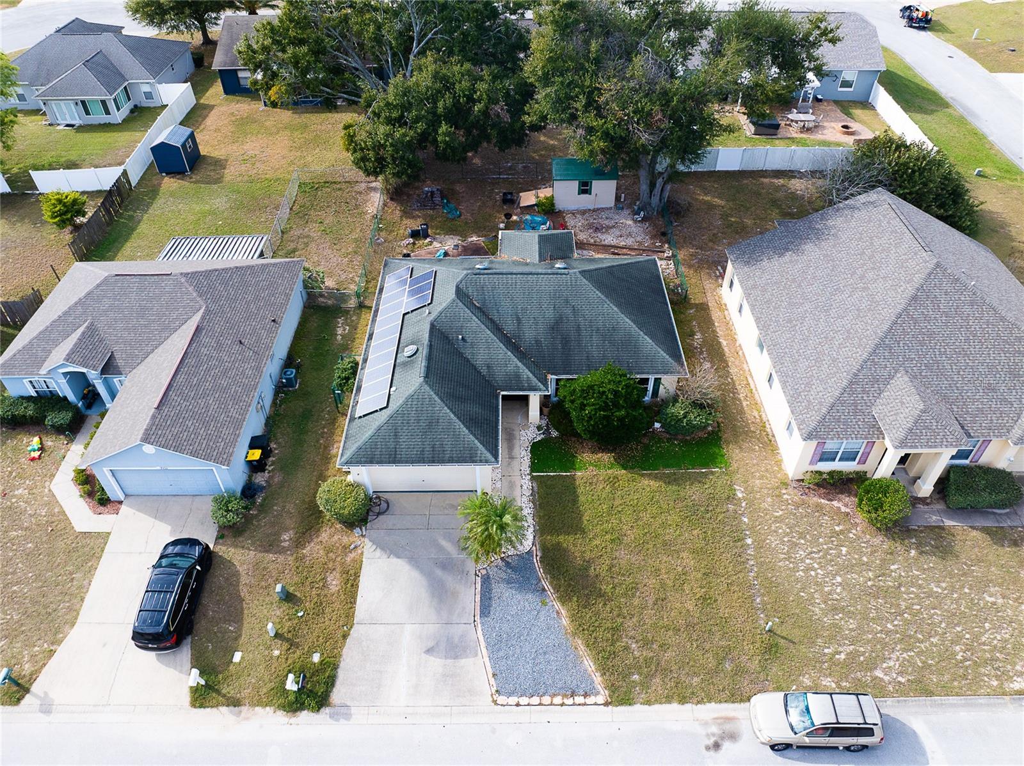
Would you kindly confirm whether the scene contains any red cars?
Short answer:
No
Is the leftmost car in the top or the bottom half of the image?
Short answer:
bottom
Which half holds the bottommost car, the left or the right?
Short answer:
right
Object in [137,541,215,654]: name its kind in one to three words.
car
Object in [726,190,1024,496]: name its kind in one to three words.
house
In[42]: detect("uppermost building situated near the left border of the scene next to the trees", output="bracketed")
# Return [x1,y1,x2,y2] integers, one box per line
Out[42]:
[1,20,191,127]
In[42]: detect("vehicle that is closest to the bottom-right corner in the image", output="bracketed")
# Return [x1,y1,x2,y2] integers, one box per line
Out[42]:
[750,690,887,754]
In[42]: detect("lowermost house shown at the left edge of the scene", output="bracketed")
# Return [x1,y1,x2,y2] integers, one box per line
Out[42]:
[0,258,305,501]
